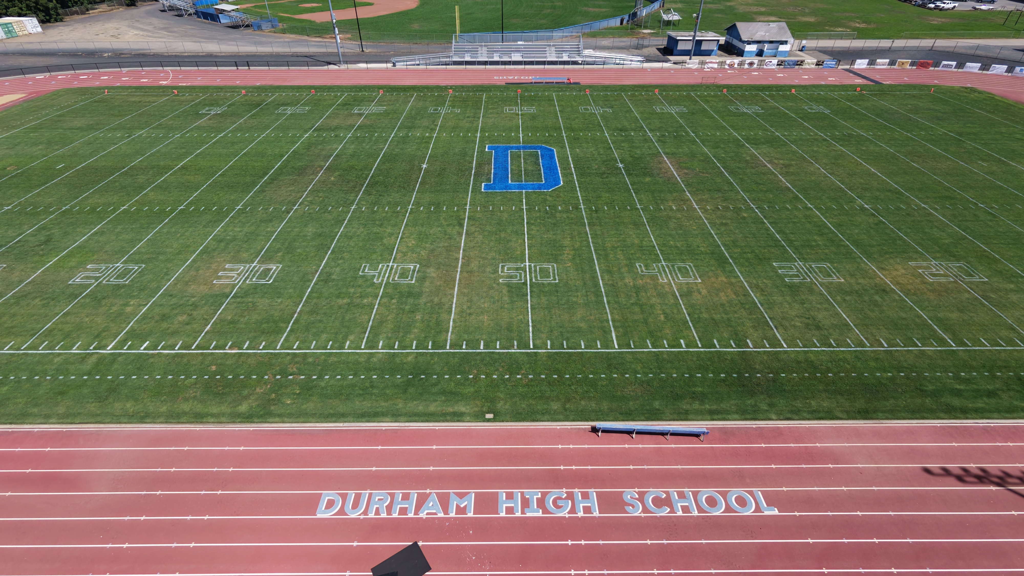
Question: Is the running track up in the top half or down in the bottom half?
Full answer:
It is in the bottom half that the running track appears.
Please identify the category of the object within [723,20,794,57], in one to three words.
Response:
building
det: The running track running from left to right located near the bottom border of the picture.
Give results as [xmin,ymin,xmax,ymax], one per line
[0,424,1024,576]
